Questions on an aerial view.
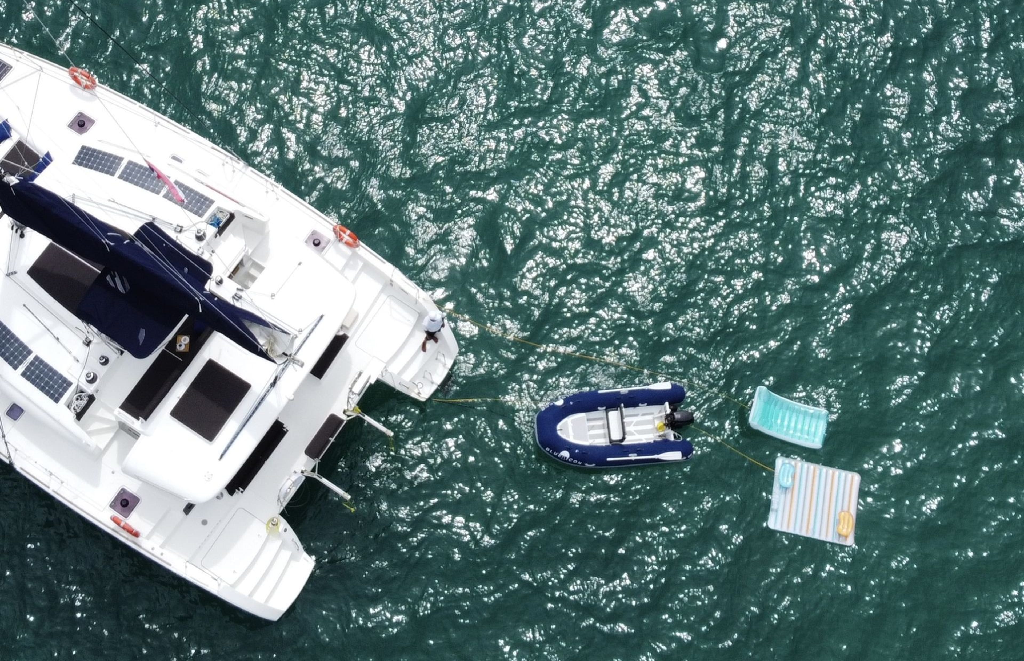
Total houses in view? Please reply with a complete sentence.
There are no houses in the image.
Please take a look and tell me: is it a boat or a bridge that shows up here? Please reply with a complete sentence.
Looking from above, you can make out a boat.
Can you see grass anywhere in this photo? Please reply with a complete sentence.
No, the picture contains no grass.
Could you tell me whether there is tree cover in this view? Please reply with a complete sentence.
No, there is no tree cover in the image.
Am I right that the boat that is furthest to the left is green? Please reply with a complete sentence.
No, the color of the boat that is furthest to the left is white.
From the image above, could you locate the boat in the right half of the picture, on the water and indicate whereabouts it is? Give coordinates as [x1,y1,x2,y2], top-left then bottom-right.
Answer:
[535,385,694,468]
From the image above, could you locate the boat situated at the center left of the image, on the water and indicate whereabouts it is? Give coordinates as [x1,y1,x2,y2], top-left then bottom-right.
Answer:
[0,0,459,622]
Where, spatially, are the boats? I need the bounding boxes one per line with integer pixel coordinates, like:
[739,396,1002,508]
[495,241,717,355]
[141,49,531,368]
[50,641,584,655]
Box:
[0,0,459,622]
[535,385,694,468]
